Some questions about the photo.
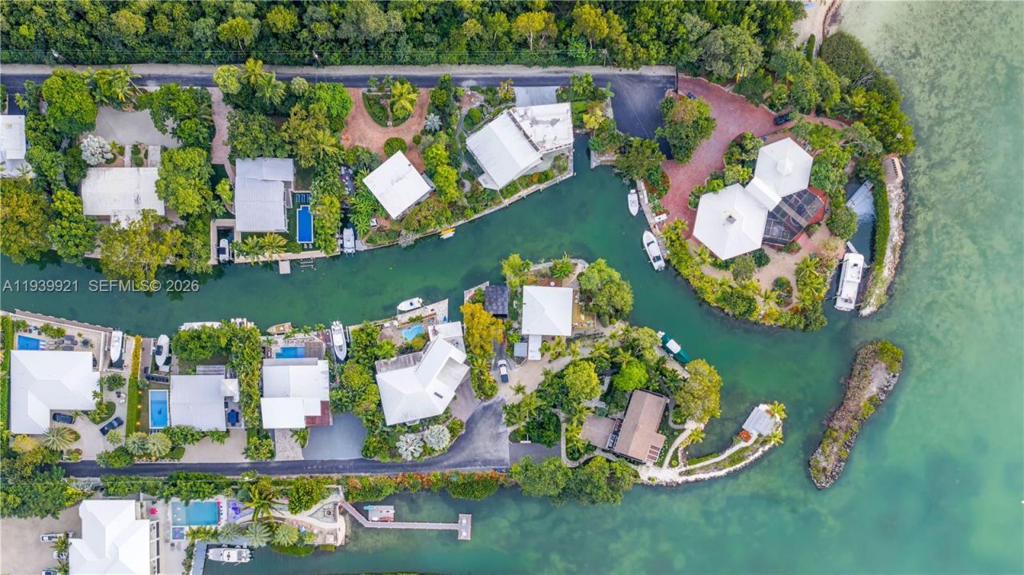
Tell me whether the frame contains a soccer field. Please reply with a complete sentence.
No, the frame has no soccer field in it.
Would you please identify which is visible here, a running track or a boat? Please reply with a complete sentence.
The one in the frame is a boat.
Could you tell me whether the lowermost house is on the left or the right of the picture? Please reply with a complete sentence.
The lowermost house is on the left side of the image.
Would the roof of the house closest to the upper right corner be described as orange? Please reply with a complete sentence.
No, the roof of the house closest to the upper right corner is actually white.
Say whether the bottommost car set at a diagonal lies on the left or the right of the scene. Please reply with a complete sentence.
The bottommost car set at a diagonal sits on the left side.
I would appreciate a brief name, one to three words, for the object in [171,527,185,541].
swimming pool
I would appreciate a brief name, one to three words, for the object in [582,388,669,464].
house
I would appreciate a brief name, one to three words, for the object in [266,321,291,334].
boat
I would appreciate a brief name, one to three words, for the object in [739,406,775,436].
gazebo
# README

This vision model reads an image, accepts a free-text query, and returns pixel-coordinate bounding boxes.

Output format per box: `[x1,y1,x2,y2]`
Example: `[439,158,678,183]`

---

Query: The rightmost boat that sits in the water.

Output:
[836,252,867,313]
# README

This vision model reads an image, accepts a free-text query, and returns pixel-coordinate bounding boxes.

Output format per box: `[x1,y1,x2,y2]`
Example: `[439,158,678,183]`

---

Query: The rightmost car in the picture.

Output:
[773,109,795,125]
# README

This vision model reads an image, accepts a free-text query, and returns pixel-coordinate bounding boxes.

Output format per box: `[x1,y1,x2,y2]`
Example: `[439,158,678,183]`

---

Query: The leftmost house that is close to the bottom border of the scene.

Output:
[68,495,172,575]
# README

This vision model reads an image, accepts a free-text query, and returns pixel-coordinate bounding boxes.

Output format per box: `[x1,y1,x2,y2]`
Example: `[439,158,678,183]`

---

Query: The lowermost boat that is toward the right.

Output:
[660,333,689,361]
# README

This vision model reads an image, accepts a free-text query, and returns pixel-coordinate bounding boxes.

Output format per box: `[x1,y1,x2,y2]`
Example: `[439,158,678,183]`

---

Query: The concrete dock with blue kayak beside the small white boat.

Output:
[397,299,448,325]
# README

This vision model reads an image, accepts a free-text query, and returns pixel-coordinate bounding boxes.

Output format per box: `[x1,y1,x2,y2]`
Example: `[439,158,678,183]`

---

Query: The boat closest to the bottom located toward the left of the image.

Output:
[206,547,251,564]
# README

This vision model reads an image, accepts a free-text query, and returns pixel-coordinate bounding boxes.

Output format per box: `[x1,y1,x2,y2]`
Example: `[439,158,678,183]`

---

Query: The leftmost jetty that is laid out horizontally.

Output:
[13,309,110,332]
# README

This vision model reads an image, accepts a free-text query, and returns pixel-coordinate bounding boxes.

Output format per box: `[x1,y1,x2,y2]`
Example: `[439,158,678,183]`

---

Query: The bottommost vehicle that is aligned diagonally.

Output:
[96,416,124,438]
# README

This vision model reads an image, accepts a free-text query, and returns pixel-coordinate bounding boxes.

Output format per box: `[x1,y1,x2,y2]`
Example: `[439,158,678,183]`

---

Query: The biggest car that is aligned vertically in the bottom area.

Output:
[497,359,511,384]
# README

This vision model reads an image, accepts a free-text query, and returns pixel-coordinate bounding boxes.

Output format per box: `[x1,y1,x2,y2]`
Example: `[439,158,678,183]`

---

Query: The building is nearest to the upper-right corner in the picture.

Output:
[690,137,813,260]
